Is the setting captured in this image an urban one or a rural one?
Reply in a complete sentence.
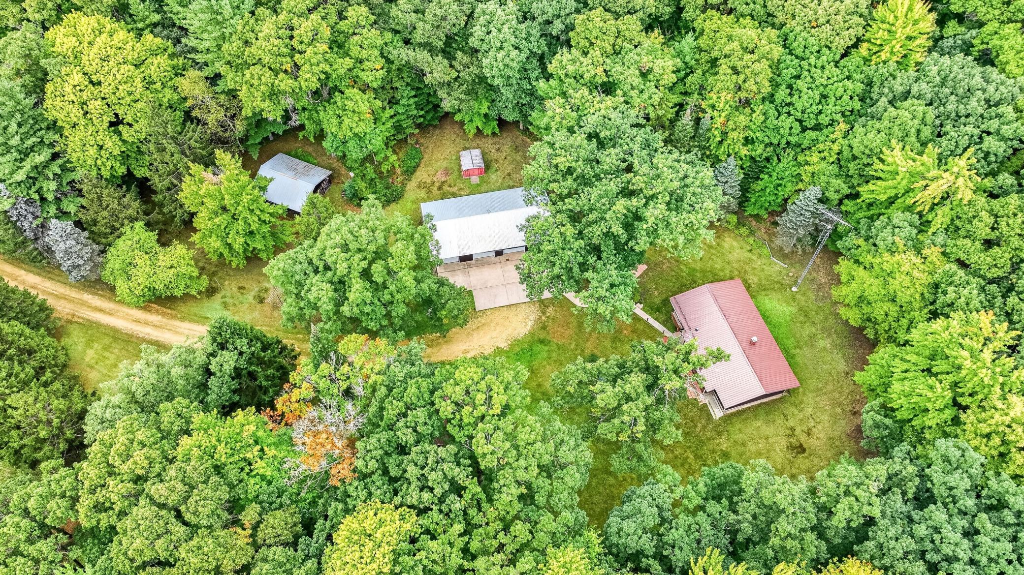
This place is rural.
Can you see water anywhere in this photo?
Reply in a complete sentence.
No, there is no water in the image.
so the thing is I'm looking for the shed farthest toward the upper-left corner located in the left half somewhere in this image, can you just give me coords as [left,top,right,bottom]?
[254,152,336,217]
